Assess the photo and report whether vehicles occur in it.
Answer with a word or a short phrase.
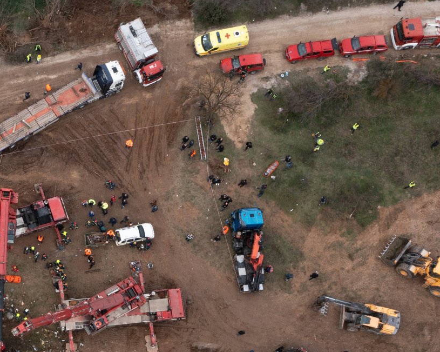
Yes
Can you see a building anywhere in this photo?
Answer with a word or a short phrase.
No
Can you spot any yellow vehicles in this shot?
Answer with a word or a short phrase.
Yes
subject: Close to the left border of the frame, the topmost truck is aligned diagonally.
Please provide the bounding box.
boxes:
[0,57,128,156]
